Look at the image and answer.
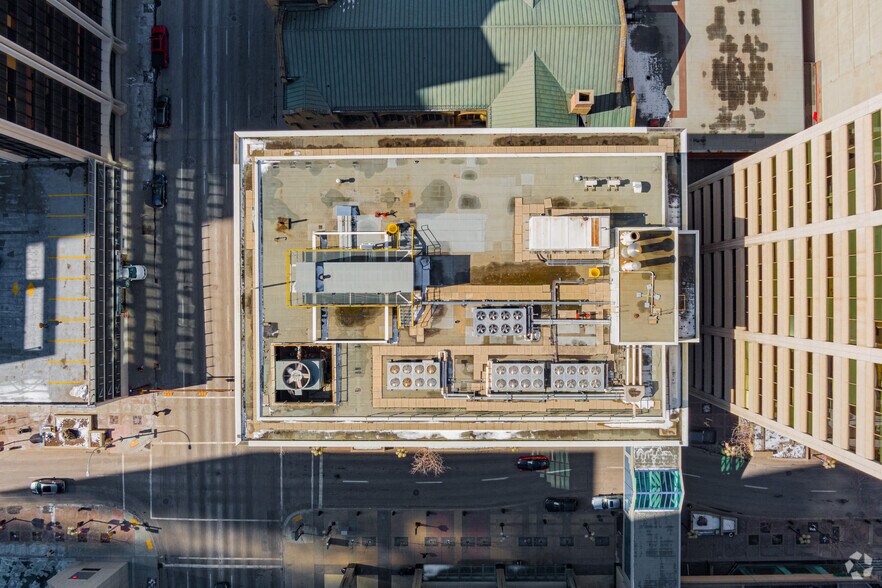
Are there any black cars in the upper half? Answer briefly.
Yes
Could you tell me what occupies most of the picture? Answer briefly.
buildings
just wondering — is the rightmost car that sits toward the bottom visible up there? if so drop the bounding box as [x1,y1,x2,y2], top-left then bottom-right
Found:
[688,430,722,447]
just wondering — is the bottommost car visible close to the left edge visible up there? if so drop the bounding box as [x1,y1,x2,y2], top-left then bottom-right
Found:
[29,480,65,497]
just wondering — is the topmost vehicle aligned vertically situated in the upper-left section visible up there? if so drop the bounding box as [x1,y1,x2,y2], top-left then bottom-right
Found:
[149,25,167,66]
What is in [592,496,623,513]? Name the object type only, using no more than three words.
car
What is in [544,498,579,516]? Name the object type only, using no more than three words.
car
